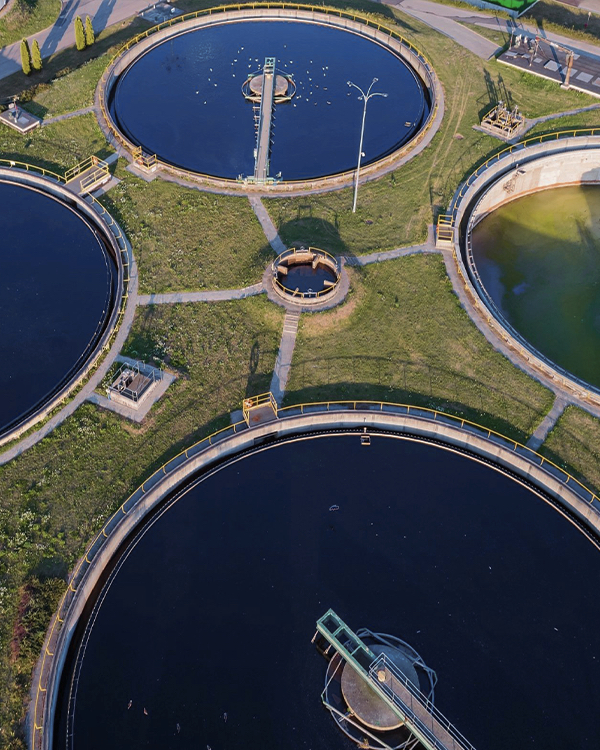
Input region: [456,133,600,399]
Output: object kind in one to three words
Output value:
storage tank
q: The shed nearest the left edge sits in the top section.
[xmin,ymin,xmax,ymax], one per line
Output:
[0,93,41,135]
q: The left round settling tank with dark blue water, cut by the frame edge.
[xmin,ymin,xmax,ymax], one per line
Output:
[0,159,130,445]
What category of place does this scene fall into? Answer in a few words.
industrial area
